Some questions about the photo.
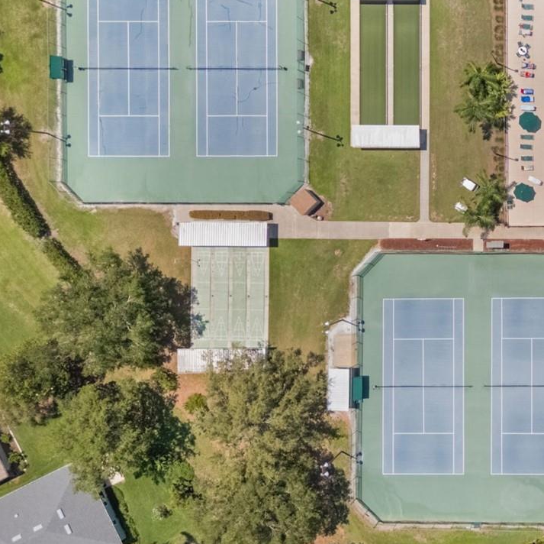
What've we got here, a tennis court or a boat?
tennis court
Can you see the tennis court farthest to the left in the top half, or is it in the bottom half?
top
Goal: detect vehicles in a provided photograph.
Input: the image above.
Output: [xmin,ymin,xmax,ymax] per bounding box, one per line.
[451,200,470,214]
[459,177,476,191]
